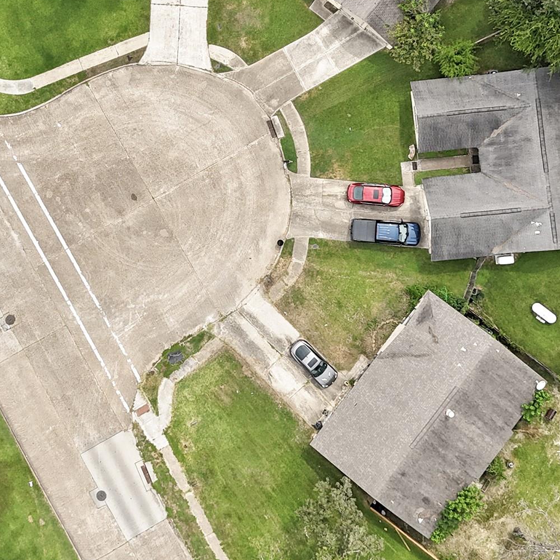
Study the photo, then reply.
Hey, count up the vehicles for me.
three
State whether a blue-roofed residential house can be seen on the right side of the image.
No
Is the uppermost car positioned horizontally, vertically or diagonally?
horizontally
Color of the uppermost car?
red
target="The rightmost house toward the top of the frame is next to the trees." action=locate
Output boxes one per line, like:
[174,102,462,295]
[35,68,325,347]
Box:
[409,67,560,261]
